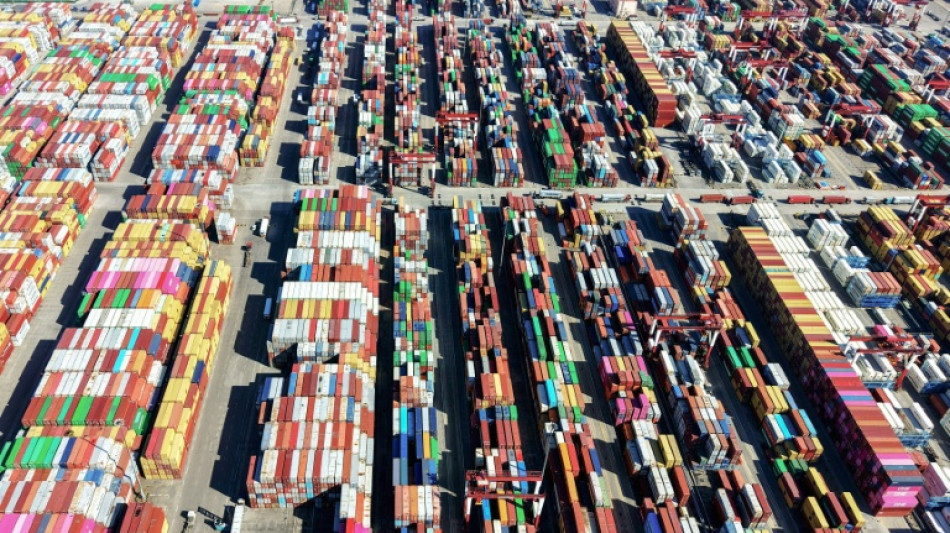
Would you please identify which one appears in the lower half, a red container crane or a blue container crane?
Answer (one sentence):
It is a red container crane that can be seen in the lower half.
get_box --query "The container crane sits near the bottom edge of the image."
[459,474,549,533]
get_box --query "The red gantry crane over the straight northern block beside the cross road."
[386,154,437,197]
